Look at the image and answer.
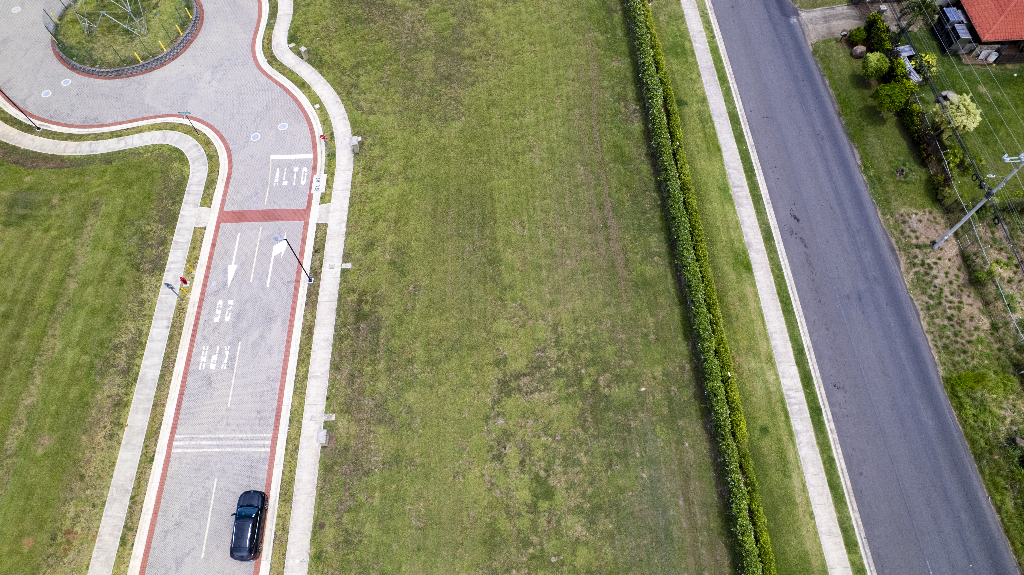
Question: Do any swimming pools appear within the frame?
No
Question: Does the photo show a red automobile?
No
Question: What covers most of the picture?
grass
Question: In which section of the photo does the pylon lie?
top left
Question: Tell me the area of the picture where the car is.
bottom left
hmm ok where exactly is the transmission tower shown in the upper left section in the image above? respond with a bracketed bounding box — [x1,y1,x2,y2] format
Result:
[66,0,149,37]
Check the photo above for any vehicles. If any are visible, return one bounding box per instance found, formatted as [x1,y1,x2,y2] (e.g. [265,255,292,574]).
[228,491,269,565]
